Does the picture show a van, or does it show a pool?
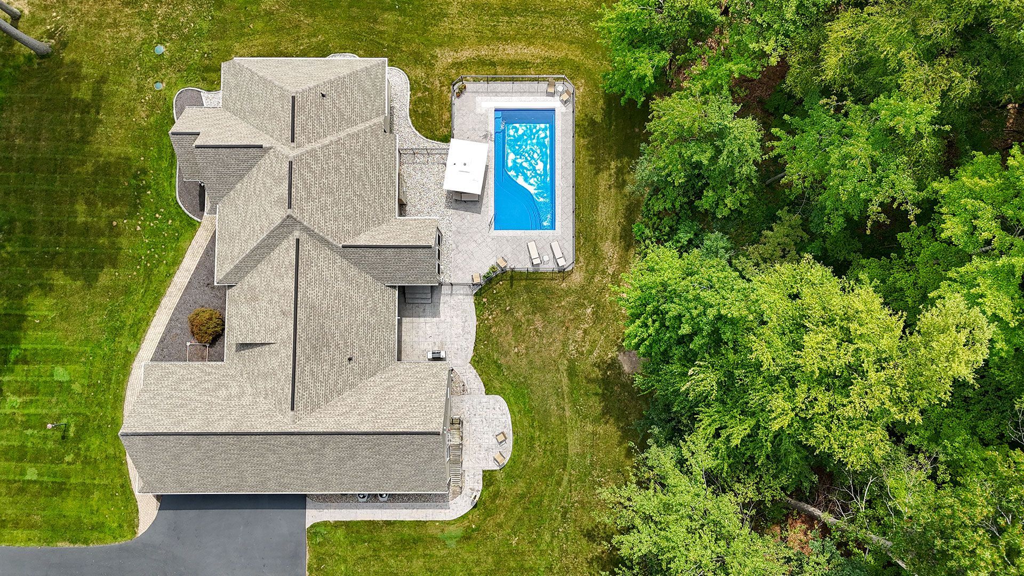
pool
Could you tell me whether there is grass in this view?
Yes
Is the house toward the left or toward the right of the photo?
left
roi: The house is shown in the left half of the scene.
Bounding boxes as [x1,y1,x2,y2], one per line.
[119,57,454,497]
